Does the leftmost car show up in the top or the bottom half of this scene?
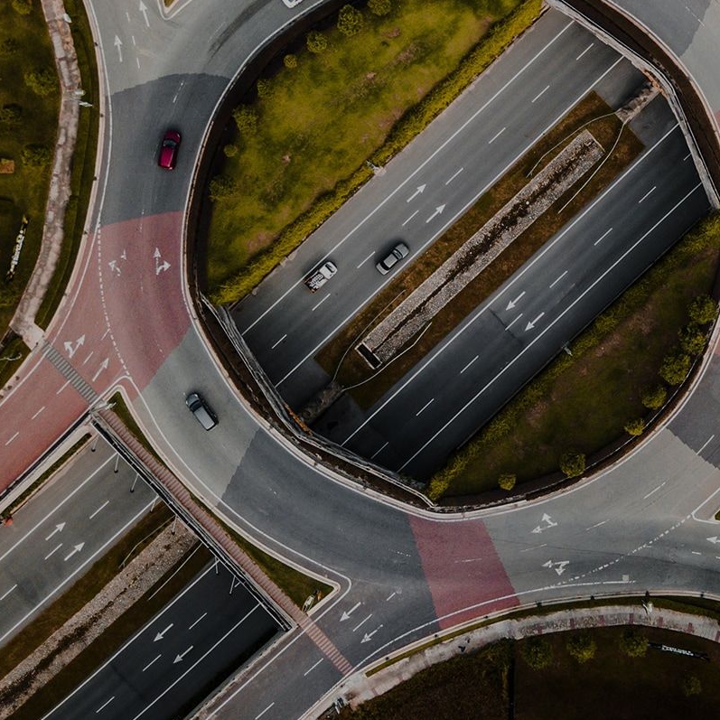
top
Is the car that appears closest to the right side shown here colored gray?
Yes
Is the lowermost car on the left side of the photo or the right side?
left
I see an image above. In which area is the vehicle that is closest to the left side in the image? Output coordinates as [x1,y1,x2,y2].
[157,131,181,169]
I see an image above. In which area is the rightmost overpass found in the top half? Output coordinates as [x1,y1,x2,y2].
[544,0,720,214]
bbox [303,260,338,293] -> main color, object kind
white truck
